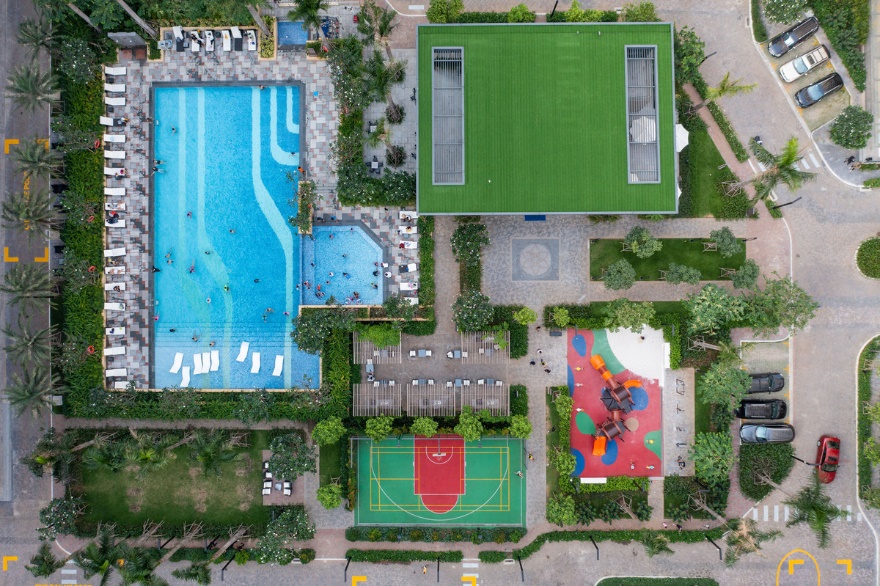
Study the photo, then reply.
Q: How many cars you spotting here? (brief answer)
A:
seven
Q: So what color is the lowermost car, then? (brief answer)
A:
red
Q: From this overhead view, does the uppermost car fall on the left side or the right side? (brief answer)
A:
right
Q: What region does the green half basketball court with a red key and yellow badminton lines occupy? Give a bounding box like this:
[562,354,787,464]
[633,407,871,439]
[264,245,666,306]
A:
[357,439,527,528]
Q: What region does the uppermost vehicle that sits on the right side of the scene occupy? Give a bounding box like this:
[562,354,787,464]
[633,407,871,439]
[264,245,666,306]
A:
[767,16,820,57]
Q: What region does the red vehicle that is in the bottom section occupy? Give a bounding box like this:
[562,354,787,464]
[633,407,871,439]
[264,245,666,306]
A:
[811,433,840,482]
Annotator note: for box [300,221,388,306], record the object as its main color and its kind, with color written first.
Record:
blue swimming pool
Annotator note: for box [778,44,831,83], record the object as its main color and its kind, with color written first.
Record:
white car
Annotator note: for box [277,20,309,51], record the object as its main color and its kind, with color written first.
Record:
blue swimming pool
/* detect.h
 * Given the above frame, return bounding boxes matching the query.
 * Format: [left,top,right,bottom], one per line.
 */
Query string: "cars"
[738,421,794,445]
[778,44,831,83]
[740,370,785,394]
[811,433,840,482]
[792,70,845,110]
[736,397,785,421]
[767,16,820,57]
